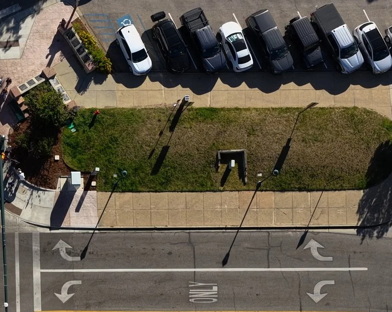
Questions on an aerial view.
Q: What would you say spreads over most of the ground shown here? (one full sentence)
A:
The scene is dominated by paved ground.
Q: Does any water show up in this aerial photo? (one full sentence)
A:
No, water can't be seen anywhere here.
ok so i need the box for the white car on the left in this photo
[116,24,151,78]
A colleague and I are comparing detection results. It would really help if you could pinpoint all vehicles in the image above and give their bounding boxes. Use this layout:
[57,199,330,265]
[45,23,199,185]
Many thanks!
[247,8,292,77]
[154,14,191,76]
[182,7,224,76]
[116,24,151,78]
[219,21,253,74]
[289,12,324,71]
[355,22,392,77]
[312,2,364,77]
